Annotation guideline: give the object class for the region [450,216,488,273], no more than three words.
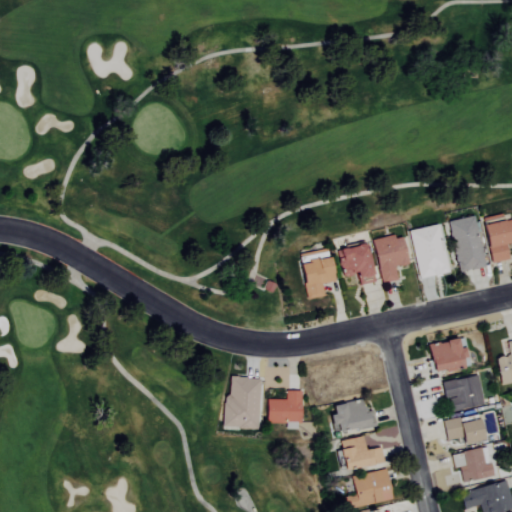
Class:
house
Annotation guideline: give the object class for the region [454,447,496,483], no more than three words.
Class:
house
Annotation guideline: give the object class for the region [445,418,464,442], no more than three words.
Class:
building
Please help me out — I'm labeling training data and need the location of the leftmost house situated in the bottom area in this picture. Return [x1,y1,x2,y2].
[222,376,263,432]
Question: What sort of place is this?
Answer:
golf course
